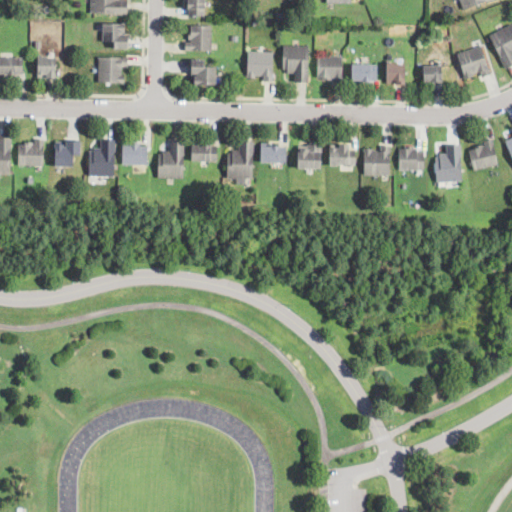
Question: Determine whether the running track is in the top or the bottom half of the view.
bottom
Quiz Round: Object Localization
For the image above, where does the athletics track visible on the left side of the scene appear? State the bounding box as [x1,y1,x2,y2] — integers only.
[58,398,276,512]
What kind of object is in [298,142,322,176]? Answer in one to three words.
house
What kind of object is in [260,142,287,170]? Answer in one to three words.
house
